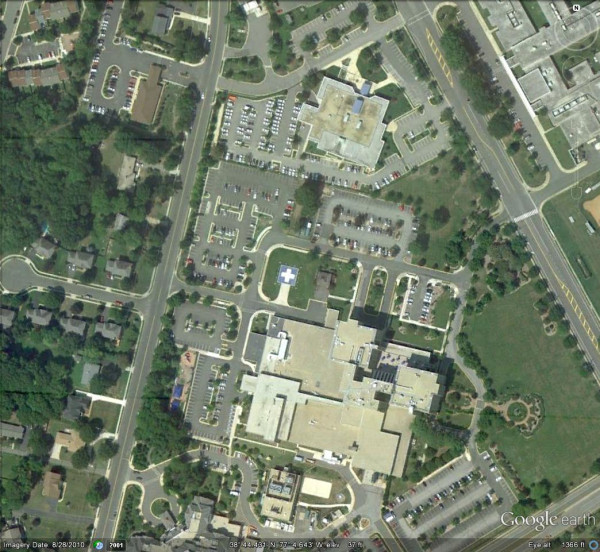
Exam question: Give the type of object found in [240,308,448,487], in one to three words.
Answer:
building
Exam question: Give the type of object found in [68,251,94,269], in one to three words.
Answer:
house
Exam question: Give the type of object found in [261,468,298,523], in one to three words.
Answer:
building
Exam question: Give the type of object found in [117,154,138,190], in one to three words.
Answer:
house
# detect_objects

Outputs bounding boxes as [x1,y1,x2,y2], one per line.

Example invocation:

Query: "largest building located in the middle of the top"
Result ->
[299,77,389,171]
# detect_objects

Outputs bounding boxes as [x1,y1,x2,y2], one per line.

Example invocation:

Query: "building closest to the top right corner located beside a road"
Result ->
[478,0,600,150]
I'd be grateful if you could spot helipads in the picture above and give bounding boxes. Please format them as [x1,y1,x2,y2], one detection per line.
[278,265,299,285]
